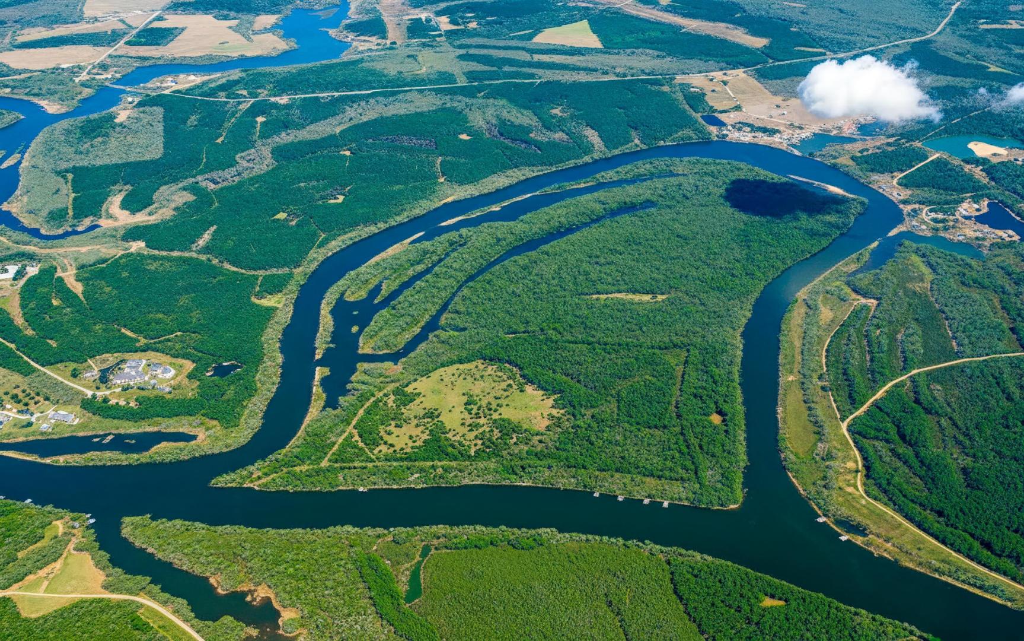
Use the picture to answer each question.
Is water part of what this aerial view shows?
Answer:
Yes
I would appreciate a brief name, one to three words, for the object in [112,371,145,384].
building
